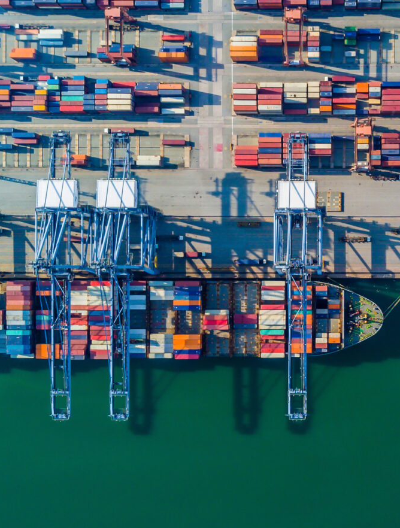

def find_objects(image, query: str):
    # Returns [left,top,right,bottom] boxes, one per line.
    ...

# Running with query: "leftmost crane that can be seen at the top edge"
[103,0,137,64]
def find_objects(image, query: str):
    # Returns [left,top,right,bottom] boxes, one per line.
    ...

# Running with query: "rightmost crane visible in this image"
[351,112,376,170]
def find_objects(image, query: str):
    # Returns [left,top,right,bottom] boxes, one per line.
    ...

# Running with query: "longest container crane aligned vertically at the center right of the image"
[272,130,330,421]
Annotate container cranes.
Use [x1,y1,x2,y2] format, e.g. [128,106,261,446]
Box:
[351,112,376,170]
[103,0,137,64]
[282,0,307,64]
[272,130,330,421]
[28,130,111,421]
[94,130,172,421]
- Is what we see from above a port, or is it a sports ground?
port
